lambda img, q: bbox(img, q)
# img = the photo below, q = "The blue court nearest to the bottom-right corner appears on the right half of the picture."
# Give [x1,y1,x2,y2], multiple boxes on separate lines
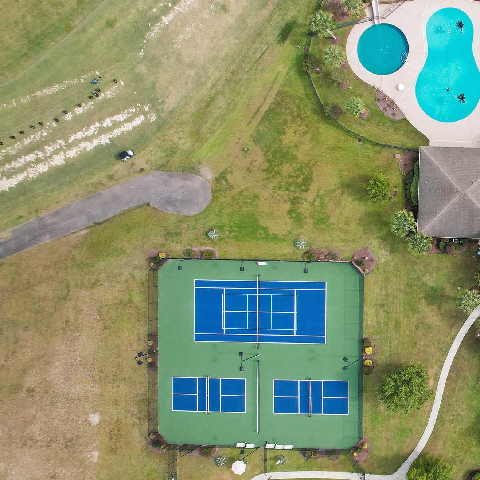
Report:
[273,378,349,418]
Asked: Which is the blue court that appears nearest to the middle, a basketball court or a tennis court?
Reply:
tennis court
